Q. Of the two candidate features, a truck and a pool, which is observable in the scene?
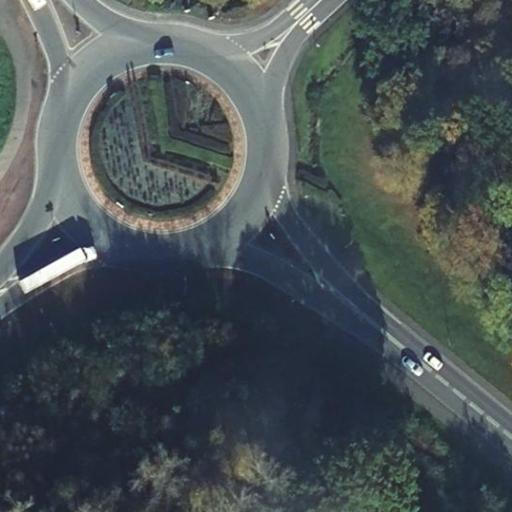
truck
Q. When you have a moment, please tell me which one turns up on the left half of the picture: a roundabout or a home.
roundabout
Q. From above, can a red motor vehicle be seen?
No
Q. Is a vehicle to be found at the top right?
No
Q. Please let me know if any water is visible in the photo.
No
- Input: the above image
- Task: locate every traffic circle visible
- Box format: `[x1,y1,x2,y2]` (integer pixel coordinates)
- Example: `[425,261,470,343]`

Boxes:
[50,36,274,260]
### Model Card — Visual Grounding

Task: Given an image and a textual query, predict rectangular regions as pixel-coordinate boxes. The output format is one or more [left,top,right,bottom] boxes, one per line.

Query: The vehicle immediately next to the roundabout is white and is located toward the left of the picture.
[18,244,97,294]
